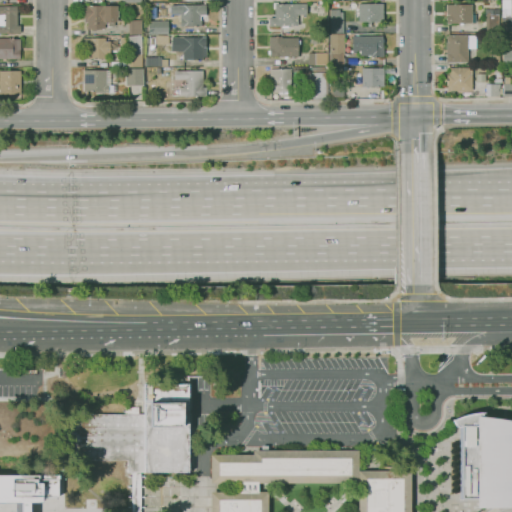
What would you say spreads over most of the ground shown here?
paved ground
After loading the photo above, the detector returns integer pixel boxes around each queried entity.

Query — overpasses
[395,125,444,300]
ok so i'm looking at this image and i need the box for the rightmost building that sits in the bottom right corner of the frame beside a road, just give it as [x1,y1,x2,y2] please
[456,412,512,508]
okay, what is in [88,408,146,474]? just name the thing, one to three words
building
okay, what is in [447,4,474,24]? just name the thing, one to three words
house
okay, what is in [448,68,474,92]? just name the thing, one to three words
house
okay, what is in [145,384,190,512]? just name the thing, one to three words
building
